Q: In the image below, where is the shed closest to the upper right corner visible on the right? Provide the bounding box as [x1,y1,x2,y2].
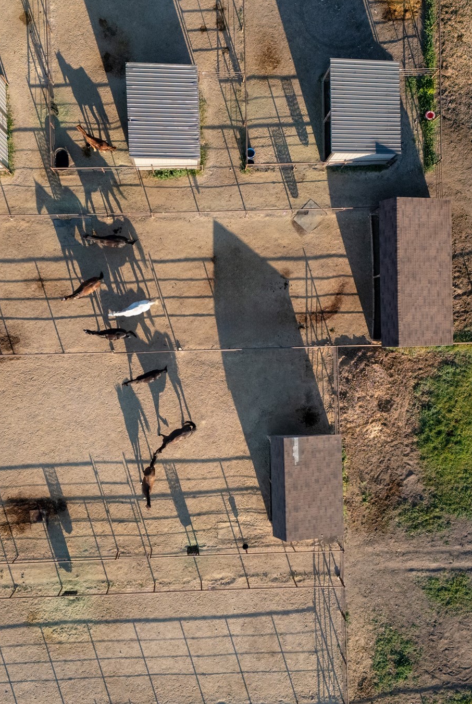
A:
[323,57,401,162]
